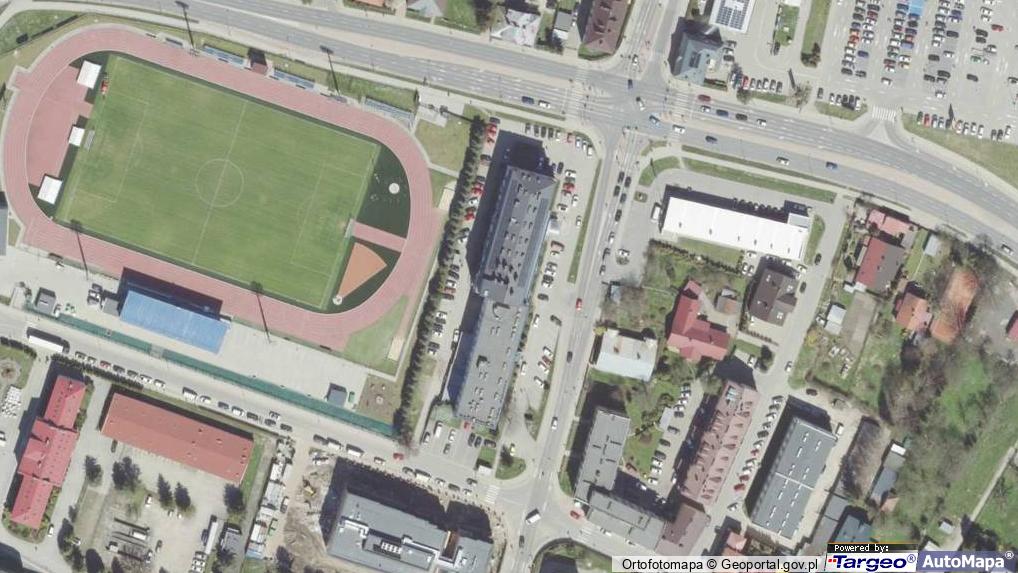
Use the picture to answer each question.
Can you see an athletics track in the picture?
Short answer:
Yes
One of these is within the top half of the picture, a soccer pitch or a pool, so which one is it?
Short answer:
soccer pitch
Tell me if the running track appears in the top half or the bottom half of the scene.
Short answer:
top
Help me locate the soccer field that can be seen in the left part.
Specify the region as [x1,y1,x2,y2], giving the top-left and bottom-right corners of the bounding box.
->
[54,54,381,310]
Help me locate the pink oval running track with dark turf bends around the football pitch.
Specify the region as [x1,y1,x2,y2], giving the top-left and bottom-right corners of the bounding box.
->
[2,30,455,357]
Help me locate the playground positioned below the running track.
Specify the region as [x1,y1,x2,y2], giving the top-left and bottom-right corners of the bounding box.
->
[358,375,401,424]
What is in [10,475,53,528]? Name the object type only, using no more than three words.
building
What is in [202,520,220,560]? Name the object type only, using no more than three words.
vehicle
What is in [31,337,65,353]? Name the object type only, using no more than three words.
vehicle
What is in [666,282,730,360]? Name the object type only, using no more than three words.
house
